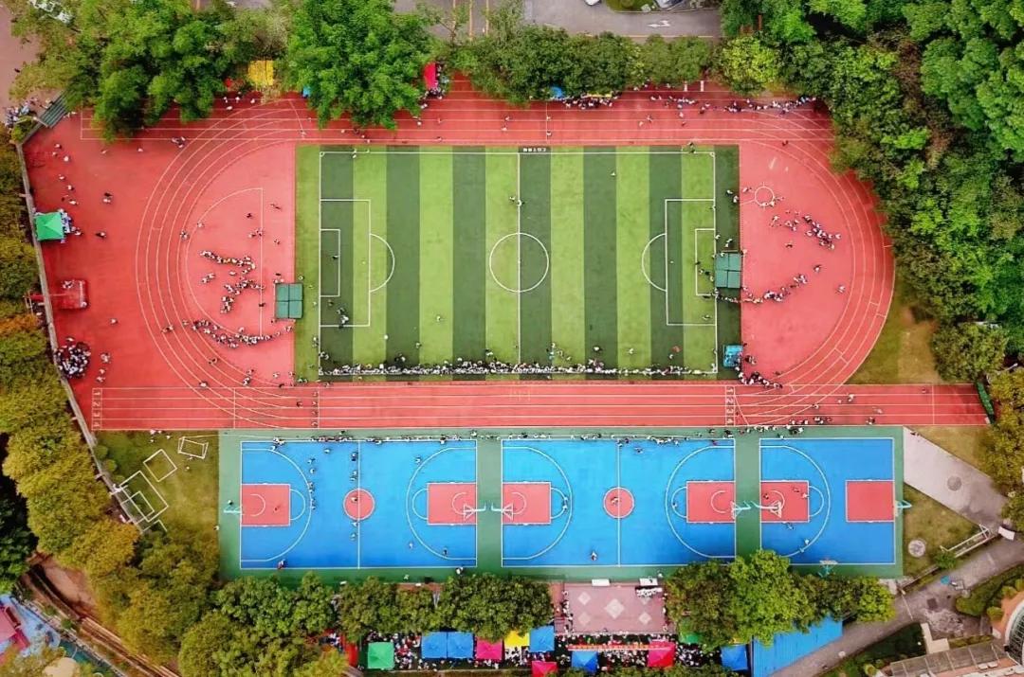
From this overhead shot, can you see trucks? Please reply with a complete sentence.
No, the picture doesn't show any truck.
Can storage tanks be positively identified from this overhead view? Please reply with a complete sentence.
No, the picture doesn't show any storage tank.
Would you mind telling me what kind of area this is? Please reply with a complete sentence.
The picture captures a sports ground.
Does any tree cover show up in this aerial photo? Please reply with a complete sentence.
Yes, there is tree cover in the image.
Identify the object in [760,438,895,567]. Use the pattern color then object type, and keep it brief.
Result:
blue basketball court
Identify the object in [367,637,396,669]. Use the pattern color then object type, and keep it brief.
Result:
green tent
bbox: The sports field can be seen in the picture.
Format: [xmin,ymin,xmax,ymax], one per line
[294,144,741,382]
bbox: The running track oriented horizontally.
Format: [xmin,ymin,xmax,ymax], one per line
[29,68,987,431]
